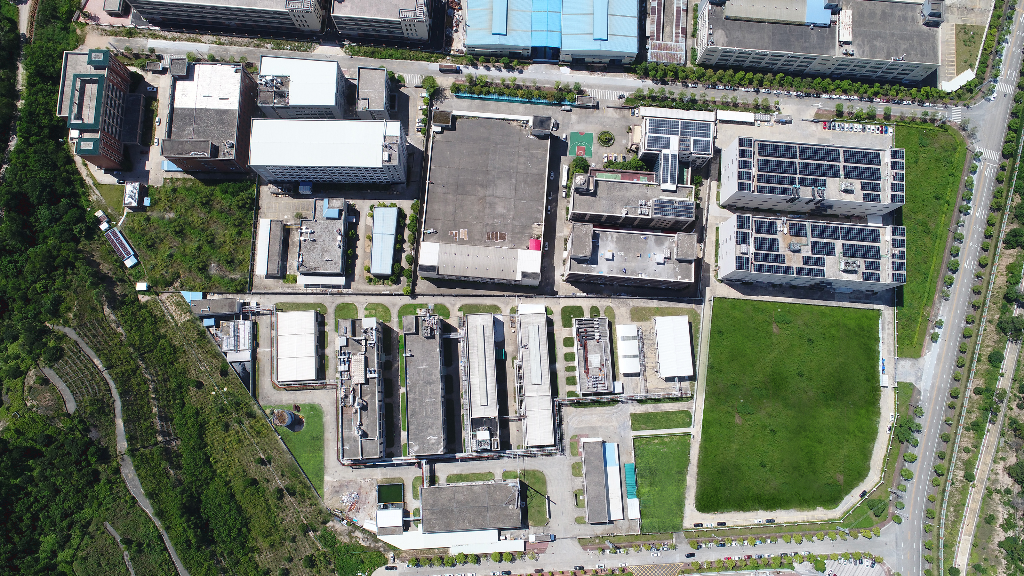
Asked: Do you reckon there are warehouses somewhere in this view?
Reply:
Yes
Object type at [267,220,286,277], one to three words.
shed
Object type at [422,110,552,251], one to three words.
warehouse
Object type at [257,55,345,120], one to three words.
building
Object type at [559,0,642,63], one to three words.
building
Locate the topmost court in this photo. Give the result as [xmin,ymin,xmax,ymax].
[569,132,594,157]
